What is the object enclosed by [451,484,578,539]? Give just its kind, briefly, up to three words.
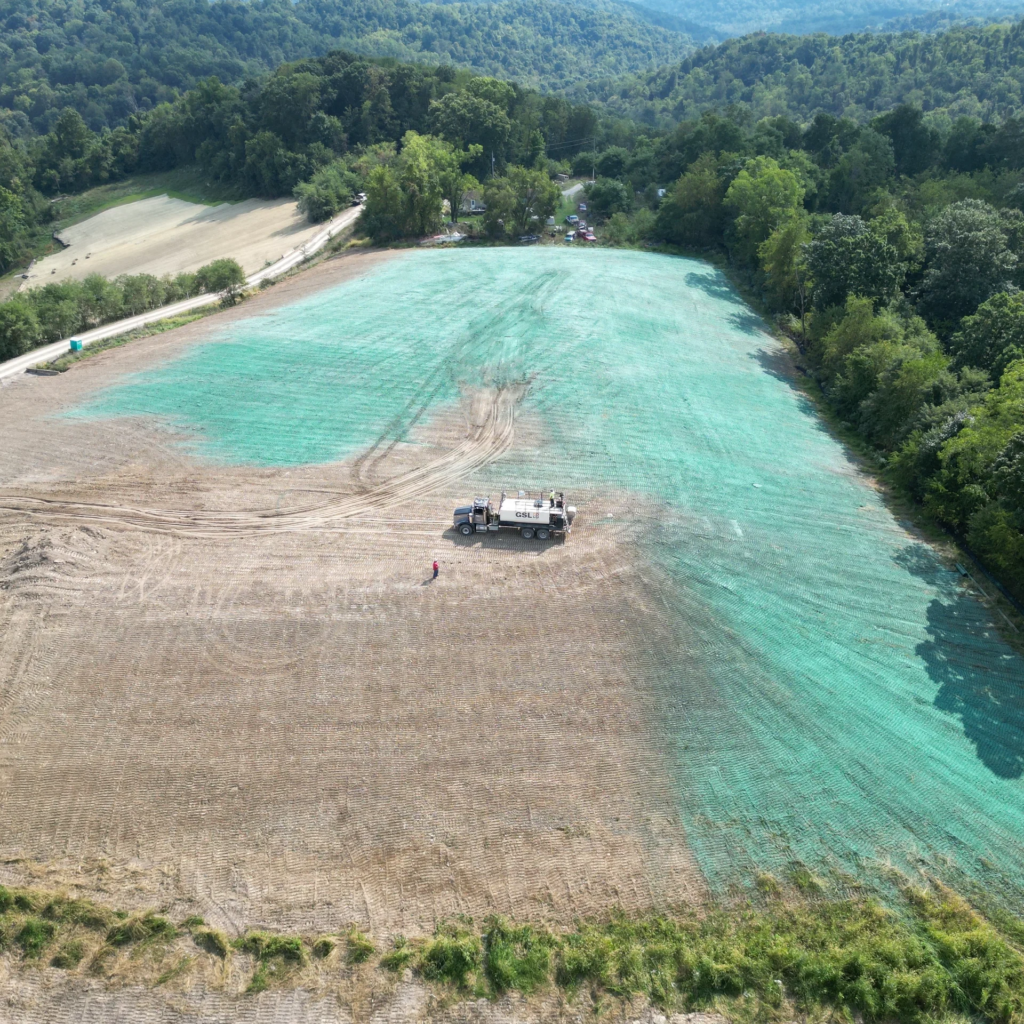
truck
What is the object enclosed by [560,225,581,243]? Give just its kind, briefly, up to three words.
vehicle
